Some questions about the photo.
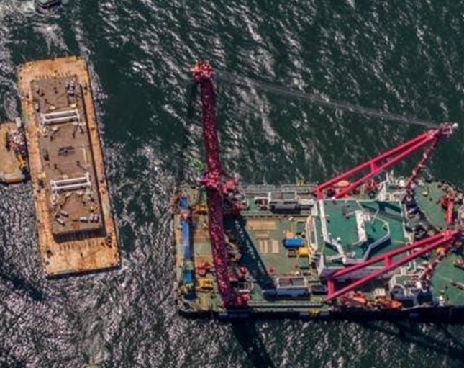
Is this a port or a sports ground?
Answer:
port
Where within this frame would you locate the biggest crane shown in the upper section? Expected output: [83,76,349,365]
[165,56,460,222]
